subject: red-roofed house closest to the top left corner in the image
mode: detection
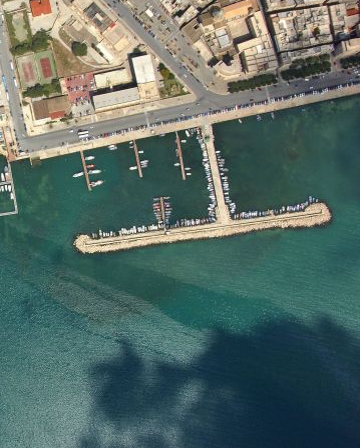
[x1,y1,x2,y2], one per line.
[30,0,53,19]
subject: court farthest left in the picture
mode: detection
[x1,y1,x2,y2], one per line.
[17,53,41,89]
